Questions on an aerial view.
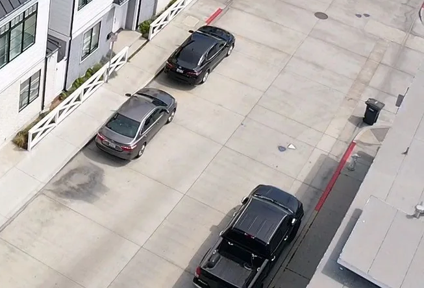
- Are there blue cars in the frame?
No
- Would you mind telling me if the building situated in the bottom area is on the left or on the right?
right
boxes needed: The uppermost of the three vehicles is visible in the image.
[160,22,236,87]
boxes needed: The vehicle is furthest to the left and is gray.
[91,82,182,162]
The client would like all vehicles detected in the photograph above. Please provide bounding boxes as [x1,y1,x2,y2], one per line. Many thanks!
[184,179,309,288]
[160,22,236,87]
[91,82,182,162]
